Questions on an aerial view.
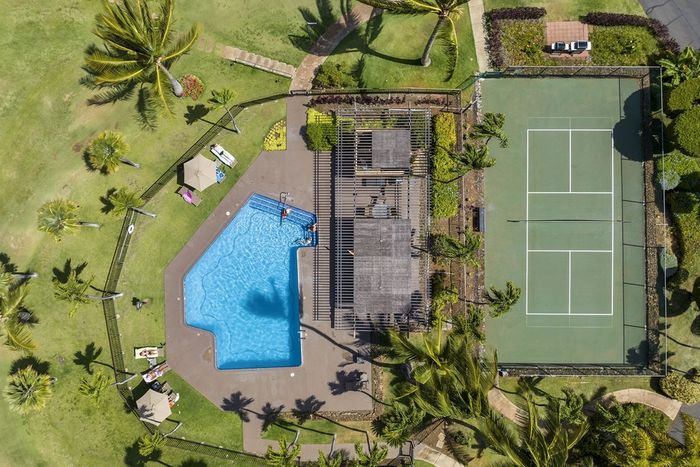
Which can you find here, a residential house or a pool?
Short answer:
pool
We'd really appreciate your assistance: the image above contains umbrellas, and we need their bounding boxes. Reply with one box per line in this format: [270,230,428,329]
[184,154,217,191]
[136,388,172,426]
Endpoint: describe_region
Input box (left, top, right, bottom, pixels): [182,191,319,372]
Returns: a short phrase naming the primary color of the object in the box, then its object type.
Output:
blue swimming pool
